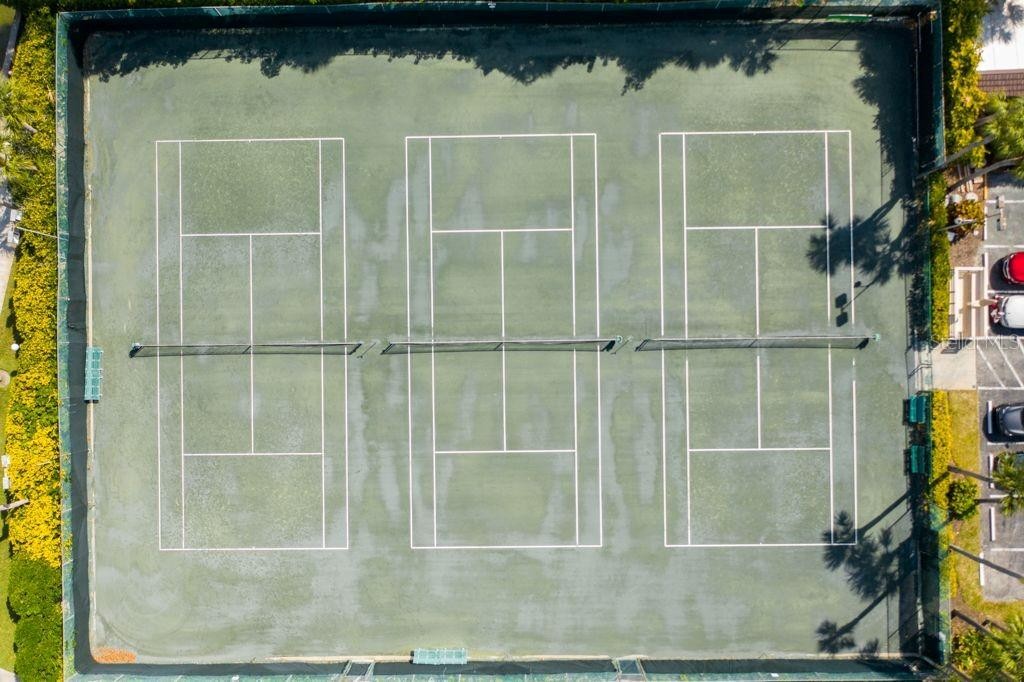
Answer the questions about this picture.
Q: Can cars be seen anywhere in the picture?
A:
Yes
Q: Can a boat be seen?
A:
No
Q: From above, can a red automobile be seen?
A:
Yes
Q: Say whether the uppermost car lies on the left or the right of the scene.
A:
right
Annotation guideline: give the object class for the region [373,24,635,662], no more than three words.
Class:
tennis court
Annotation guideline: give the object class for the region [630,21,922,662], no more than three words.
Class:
tennis court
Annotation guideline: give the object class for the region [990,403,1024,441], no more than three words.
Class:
car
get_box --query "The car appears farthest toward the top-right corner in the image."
[999,251,1024,285]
